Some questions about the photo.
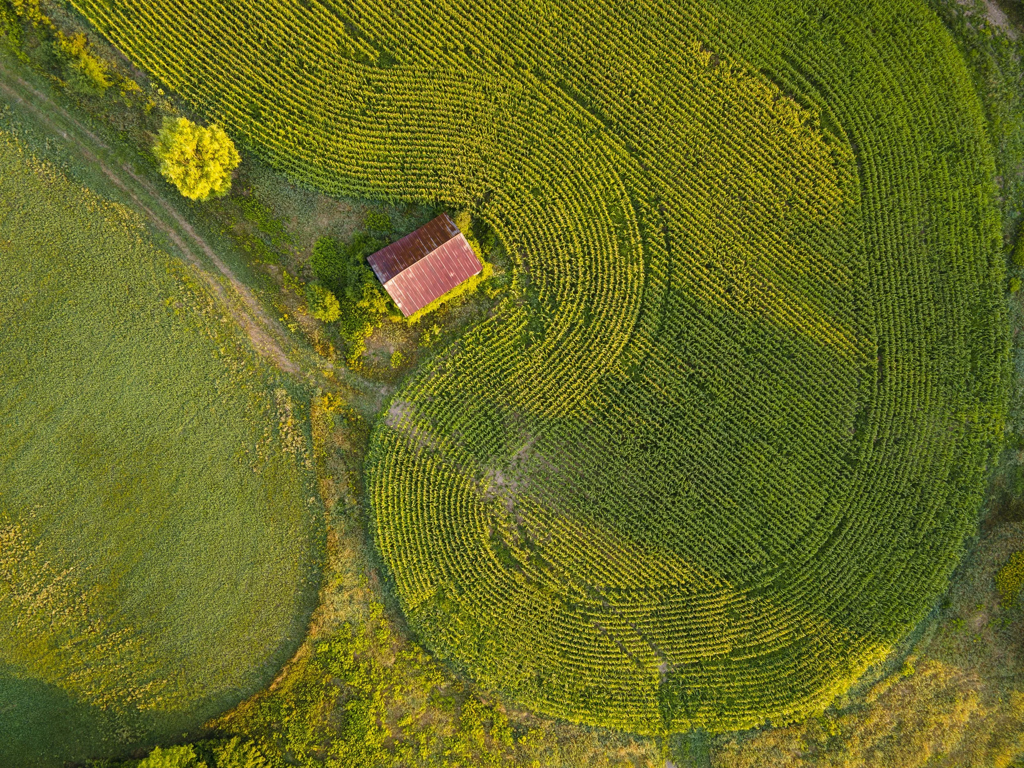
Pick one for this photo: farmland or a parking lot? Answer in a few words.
farmland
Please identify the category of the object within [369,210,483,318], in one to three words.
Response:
barn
